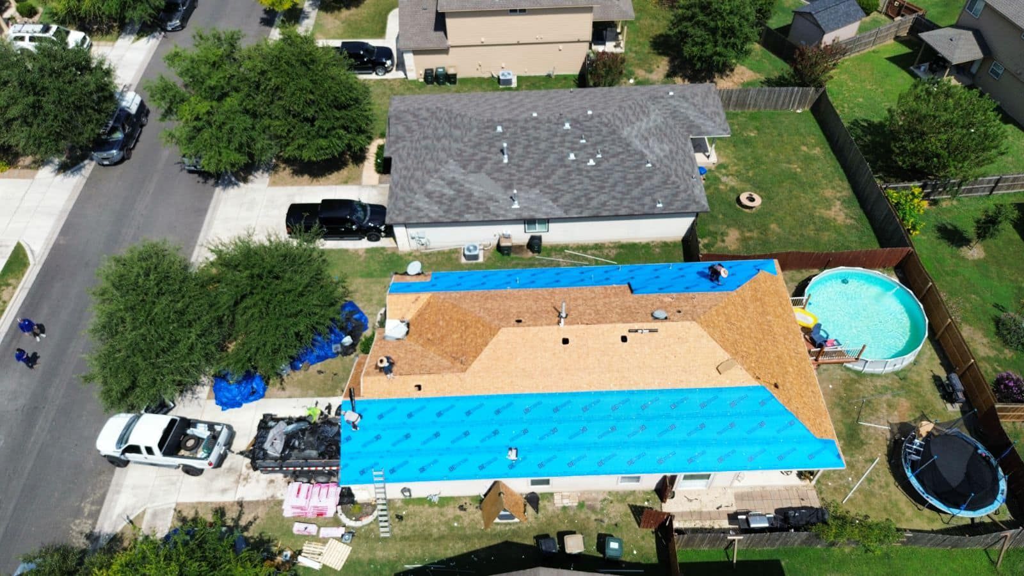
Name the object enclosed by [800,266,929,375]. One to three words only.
swimming pool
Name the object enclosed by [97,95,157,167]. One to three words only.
truck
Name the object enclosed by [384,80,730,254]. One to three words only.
house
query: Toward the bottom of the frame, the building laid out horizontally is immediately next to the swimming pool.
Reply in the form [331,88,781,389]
[339,258,845,496]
